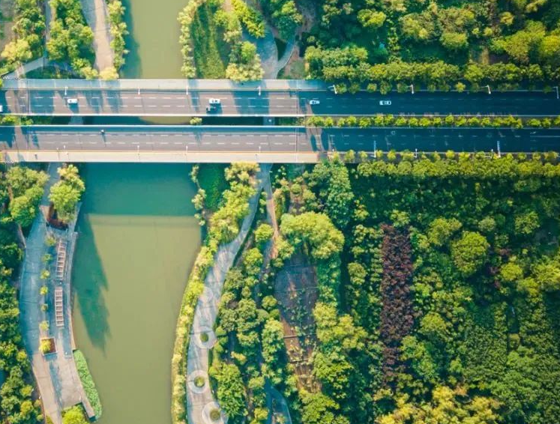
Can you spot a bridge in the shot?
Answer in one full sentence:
Yes, the image includes a bridge.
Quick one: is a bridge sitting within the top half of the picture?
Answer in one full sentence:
Yes, within the top half of the picture there is a bridge.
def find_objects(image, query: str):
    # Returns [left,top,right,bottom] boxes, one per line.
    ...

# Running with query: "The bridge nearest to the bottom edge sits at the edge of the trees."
[0,126,325,161]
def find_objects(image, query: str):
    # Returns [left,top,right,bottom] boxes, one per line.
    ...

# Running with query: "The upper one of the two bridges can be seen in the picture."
[5,79,322,115]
